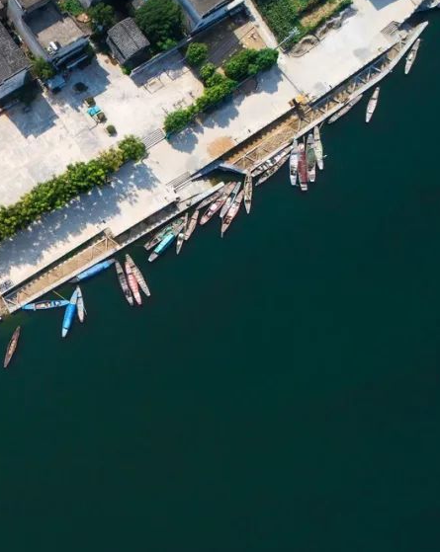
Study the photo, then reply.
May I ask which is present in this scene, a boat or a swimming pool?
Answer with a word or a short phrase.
boat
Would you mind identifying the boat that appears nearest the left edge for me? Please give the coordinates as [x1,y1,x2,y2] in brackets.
[4,328,20,367]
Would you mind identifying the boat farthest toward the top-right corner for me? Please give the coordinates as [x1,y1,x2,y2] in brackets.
[405,39,420,73]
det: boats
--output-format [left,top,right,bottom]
[291,139,298,185]
[245,172,251,212]
[220,183,241,217]
[63,288,78,337]
[125,260,142,304]
[298,142,307,189]
[366,87,380,121]
[4,328,20,367]
[149,222,186,261]
[22,303,69,310]
[186,211,198,239]
[176,234,185,254]
[328,94,363,122]
[405,39,420,73]
[78,286,83,322]
[146,216,187,248]
[116,263,132,305]
[255,153,291,185]
[252,144,294,174]
[127,255,150,295]
[69,259,116,282]
[197,189,224,209]
[201,183,233,224]
[307,133,315,182]
[221,192,243,233]
[315,125,323,168]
